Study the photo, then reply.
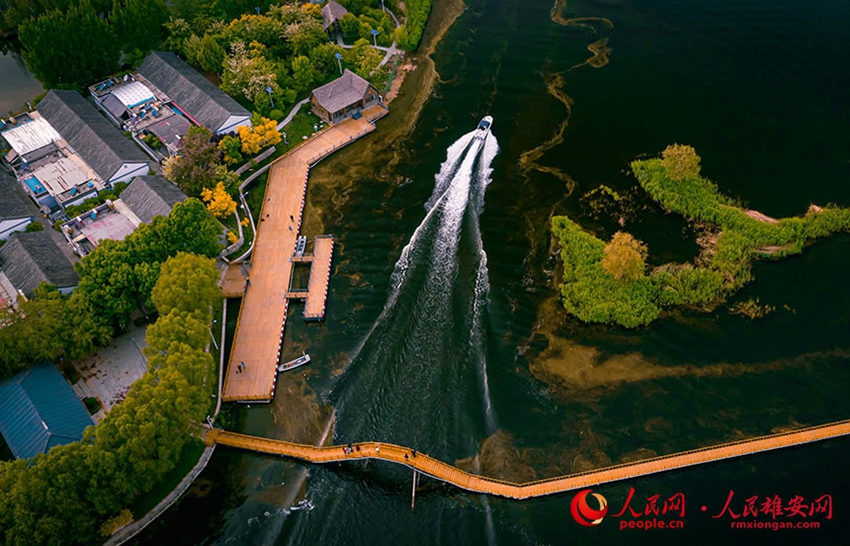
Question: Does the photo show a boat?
Yes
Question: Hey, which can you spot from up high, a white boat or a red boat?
white boat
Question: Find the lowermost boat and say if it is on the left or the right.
left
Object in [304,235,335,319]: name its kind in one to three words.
pier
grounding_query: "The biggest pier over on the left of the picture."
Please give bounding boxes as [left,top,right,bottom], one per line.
[222,100,389,404]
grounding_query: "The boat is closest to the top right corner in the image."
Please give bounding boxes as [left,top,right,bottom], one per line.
[474,113,491,141]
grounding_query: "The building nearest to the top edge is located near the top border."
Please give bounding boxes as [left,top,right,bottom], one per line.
[318,0,352,37]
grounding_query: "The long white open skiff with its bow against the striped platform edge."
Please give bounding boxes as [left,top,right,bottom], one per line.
[279,350,312,372]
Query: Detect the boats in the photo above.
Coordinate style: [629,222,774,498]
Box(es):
[474,113,491,141]
[297,236,308,255]
[279,350,312,372]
